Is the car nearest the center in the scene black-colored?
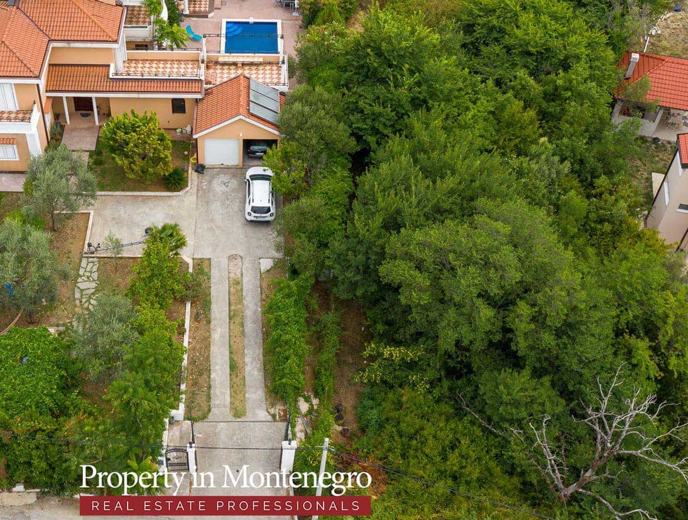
No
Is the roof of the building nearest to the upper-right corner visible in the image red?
Yes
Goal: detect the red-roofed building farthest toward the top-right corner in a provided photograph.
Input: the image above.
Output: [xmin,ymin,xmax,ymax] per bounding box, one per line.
[618,50,688,142]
